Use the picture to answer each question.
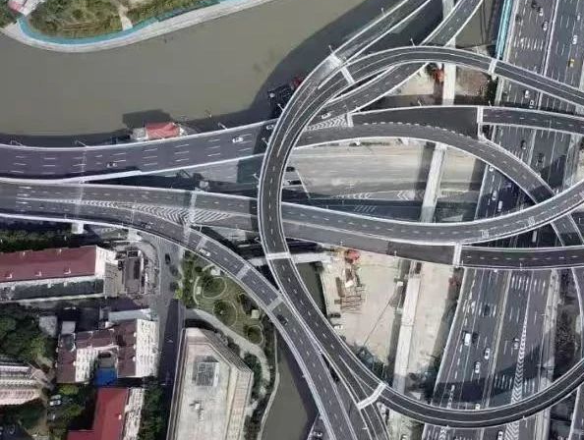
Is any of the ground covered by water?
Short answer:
Yes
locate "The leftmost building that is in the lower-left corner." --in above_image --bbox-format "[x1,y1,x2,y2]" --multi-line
[0,364,47,401]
